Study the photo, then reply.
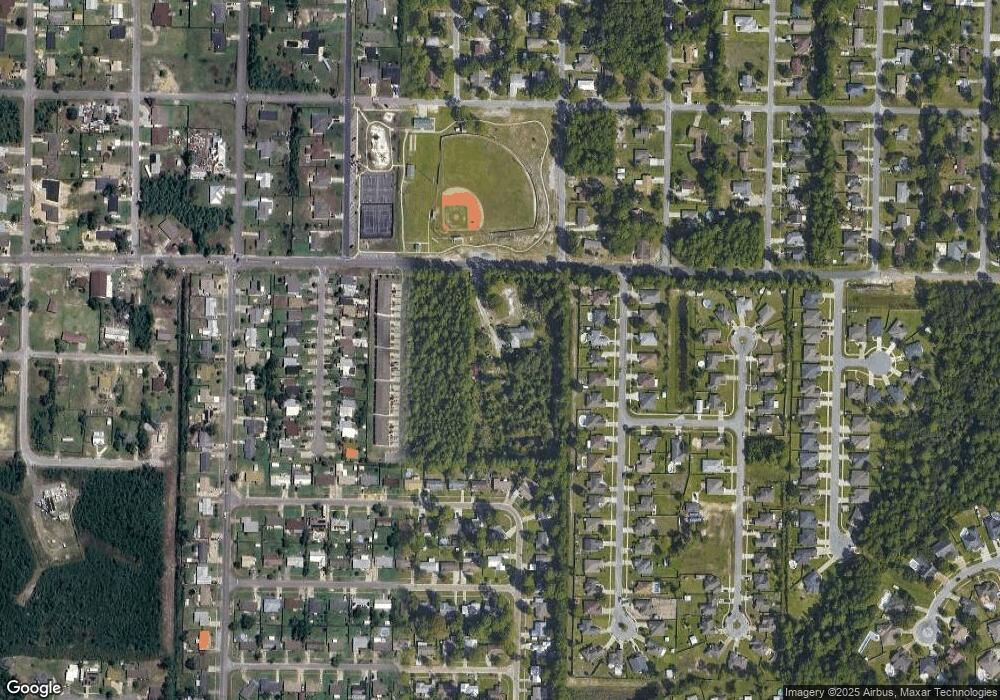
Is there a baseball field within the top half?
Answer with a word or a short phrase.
Yes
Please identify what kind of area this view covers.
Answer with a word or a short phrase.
residential area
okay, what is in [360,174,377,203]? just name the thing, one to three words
basketball court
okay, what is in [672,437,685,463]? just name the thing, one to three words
house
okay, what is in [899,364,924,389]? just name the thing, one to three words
house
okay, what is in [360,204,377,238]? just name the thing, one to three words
tennis court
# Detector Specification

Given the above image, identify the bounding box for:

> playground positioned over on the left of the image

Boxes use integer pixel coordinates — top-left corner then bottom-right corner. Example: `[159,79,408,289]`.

[369,125,390,168]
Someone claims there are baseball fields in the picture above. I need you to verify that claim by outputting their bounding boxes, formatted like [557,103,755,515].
[438,133,534,234]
